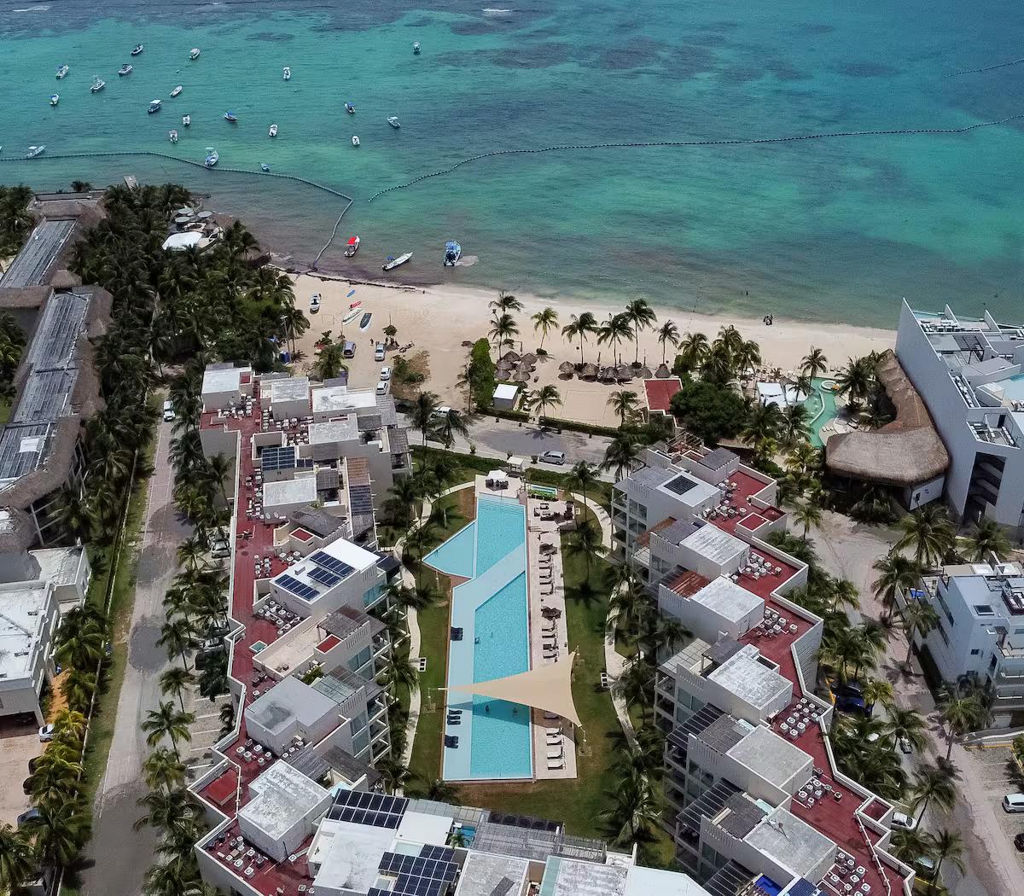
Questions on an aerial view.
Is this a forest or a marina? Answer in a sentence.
The area seen from above is a marina.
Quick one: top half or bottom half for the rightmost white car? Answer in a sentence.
You can find the rightmost white car in the bottom half.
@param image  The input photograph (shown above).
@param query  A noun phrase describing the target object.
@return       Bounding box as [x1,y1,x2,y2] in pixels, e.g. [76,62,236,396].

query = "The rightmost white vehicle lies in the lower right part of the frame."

[1002,789,1024,811]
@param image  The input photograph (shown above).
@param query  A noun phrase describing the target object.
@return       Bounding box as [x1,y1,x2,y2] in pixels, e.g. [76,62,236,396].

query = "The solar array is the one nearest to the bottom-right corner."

[665,476,698,495]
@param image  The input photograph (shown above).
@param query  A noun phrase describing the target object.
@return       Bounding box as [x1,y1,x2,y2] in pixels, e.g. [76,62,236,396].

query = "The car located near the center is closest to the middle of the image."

[537,447,567,461]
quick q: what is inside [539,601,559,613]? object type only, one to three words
umbrella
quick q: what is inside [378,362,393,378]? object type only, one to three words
car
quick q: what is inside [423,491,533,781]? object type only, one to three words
swimming pool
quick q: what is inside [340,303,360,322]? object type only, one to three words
boat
